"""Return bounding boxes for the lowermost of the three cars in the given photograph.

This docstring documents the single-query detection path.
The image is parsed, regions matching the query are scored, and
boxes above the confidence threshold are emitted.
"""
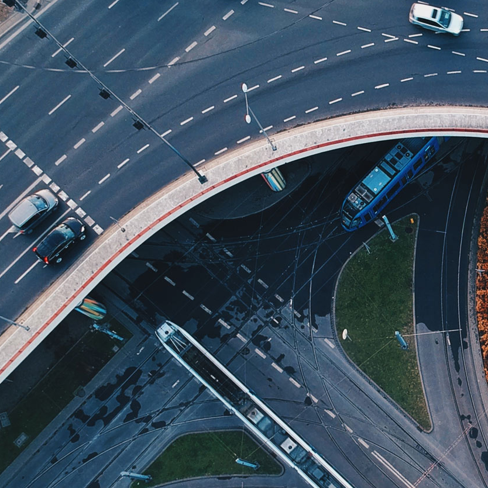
[31,218,88,269]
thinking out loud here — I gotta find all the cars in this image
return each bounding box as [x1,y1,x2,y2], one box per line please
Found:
[5,186,62,233]
[408,0,466,38]
[31,218,88,269]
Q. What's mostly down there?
paved ground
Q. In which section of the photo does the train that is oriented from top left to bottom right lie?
bottom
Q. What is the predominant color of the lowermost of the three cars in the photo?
black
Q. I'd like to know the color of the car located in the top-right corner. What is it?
white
